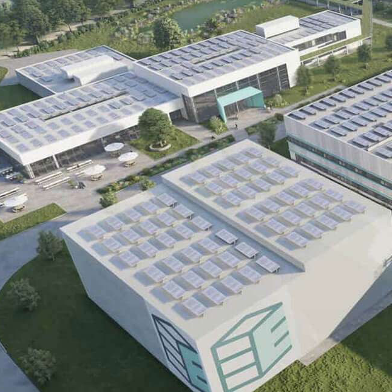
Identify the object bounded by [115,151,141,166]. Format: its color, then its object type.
white umbrella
